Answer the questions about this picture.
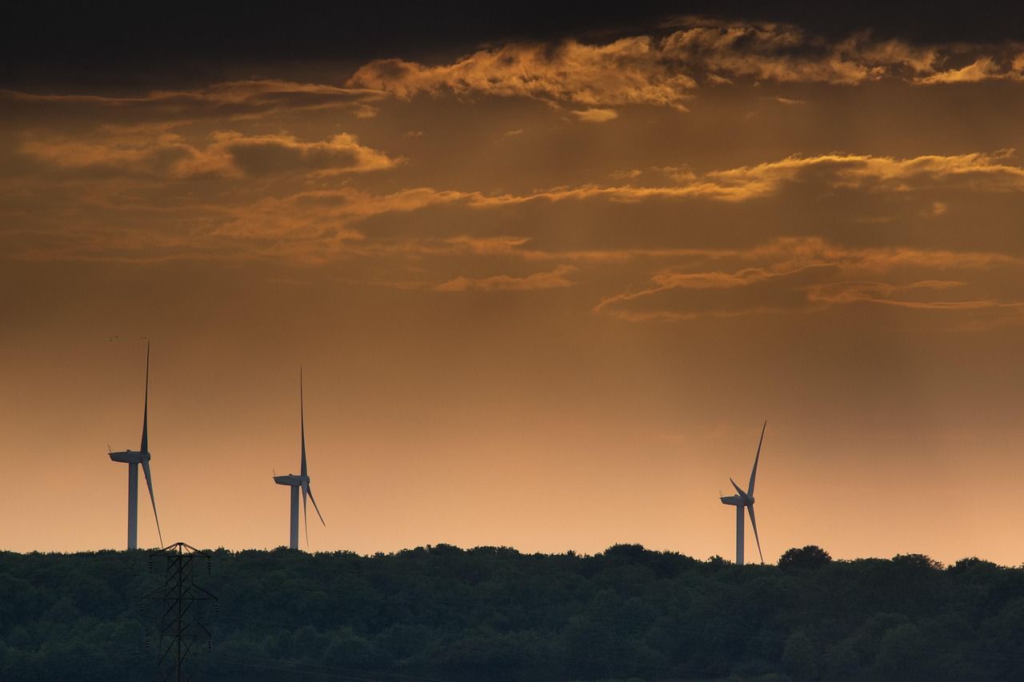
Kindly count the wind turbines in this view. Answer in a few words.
3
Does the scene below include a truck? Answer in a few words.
No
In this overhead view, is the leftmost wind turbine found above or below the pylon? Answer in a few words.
above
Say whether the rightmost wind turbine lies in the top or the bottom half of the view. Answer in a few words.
bottom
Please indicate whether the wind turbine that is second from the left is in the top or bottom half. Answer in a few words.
bottom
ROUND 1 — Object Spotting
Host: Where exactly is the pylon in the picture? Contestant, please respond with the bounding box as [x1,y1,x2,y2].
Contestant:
[137,543,221,682]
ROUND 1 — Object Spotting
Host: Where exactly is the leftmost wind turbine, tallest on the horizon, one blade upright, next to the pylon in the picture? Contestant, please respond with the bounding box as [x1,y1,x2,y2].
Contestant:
[108,345,166,551]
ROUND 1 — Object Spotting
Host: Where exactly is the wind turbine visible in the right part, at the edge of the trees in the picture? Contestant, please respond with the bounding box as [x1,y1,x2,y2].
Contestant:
[718,423,767,567]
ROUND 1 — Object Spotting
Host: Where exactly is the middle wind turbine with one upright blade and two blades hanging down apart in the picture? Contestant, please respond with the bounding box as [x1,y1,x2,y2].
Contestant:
[271,367,325,549]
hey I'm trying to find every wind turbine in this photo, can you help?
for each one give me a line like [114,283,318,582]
[108,345,166,551]
[271,367,325,549]
[718,423,767,567]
